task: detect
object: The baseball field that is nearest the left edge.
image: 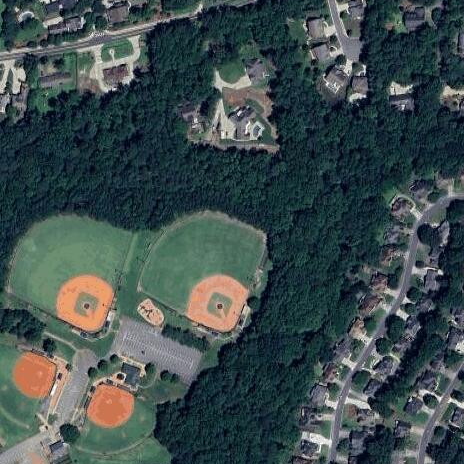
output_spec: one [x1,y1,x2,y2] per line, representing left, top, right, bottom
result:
[0,331,63,454]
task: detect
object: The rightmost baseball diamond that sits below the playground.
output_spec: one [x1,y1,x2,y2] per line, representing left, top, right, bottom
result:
[75,376,154,455]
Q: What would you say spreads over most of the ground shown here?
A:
trees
